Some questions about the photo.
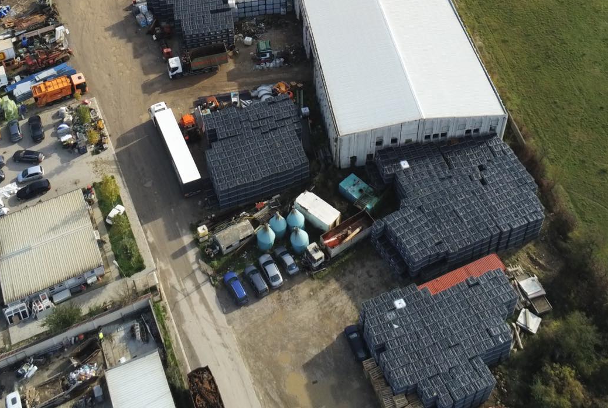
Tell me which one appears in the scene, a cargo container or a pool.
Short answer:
cargo container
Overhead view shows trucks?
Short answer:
Yes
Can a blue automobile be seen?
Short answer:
Yes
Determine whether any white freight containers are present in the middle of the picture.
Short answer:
Yes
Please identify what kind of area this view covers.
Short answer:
industrial area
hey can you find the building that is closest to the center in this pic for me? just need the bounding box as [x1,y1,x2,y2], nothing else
[341,177,384,212]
